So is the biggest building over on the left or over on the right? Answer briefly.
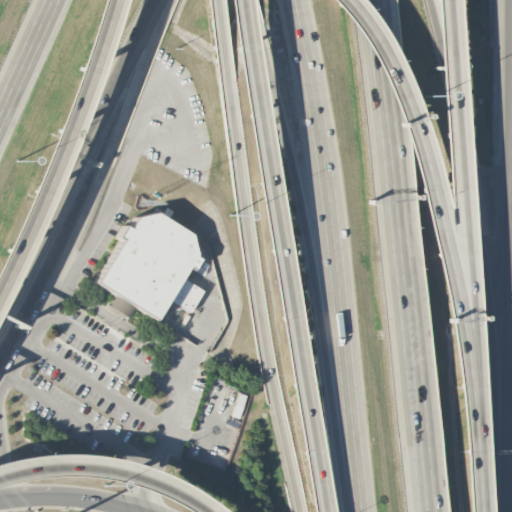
left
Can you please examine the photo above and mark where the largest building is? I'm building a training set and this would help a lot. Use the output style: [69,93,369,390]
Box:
[98,208,214,322]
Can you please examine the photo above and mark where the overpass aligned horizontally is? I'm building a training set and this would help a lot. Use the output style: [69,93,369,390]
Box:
[0,454,232,512]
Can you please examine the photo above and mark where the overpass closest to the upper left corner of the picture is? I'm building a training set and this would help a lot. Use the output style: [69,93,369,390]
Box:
[0,0,135,334]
